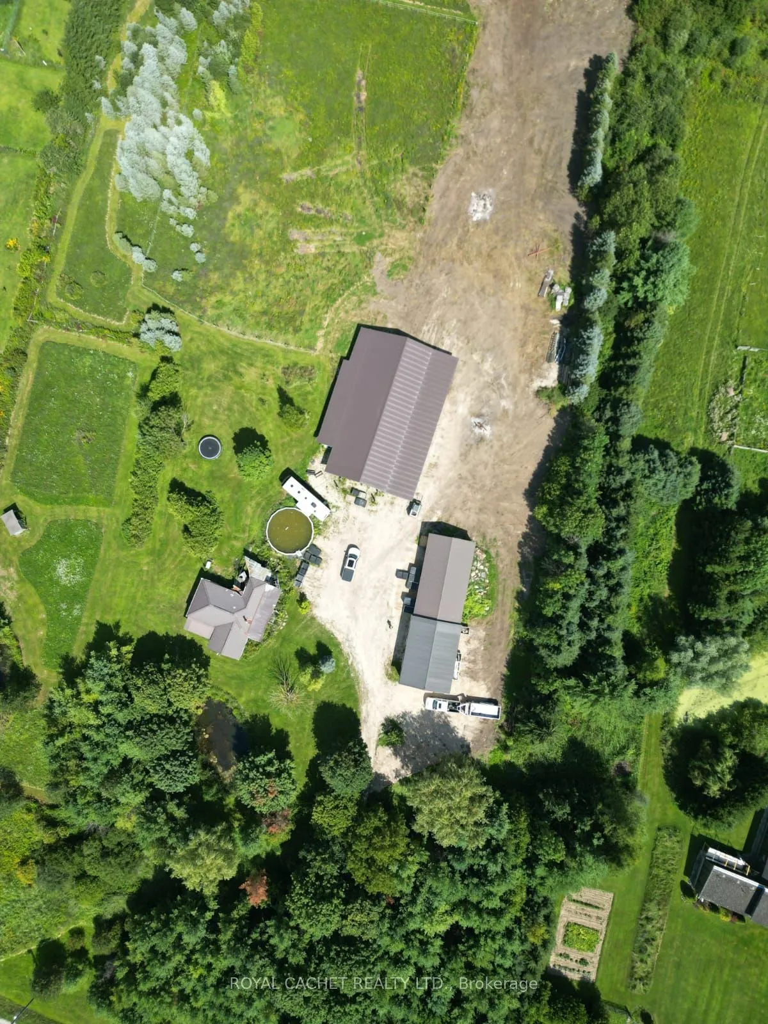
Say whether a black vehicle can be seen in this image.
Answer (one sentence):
No, this view has no black vehicle in it.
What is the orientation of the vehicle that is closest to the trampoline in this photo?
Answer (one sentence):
The vehicle that is closest to the trampoline has been laid out at an angle relative to the frame.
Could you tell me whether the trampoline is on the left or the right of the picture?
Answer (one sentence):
You can find the trampoline on the left side of the picture.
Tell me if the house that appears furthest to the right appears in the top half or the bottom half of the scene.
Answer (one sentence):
You can find the house that appears furthest to the right in the bottom half.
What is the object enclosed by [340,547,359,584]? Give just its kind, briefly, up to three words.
vehicle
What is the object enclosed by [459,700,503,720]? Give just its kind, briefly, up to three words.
trailer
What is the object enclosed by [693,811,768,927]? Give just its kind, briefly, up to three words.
house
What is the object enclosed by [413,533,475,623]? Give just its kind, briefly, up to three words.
shed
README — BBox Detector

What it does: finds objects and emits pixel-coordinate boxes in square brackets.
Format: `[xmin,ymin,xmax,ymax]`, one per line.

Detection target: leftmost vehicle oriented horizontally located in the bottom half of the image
[425,697,462,714]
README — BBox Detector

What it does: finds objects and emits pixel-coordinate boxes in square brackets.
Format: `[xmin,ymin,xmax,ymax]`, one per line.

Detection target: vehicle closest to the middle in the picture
[409,499,422,517]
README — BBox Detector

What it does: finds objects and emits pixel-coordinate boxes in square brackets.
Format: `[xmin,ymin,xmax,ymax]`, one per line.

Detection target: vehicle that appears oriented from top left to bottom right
[283,476,334,523]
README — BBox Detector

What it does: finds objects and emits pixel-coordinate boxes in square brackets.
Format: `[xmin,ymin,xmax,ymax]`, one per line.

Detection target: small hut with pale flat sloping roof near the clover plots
[1,510,27,535]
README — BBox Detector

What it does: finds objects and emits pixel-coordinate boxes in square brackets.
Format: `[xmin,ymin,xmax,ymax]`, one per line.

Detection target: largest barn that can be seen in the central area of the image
[317,327,458,500]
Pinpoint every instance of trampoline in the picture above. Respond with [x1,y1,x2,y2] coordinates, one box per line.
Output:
[199,437,221,459]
